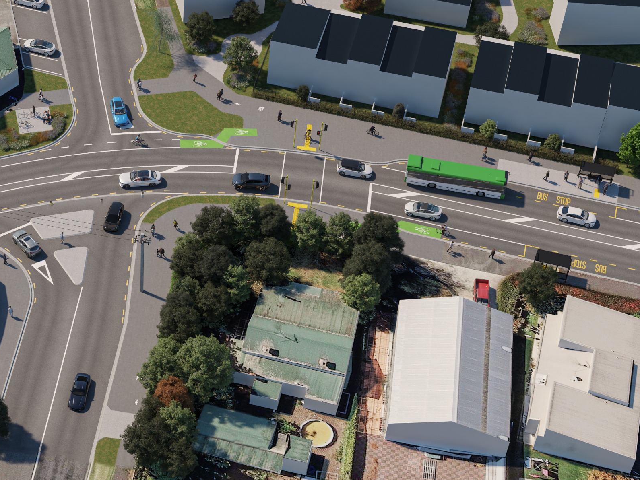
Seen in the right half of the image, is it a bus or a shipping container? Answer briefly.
bus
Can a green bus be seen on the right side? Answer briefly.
Yes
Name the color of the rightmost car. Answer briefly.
white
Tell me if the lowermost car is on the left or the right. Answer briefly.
left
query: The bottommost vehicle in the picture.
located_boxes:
[69,372,92,412]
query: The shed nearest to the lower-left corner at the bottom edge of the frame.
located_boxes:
[193,404,313,480]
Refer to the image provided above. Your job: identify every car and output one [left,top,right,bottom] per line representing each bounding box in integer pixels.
[11,0,45,10]
[231,172,271,191]
[336,159,373,178]
[403,200,444,221]
[21,38,58,57]
[119,170,161,188]
[112,97,129,125]
[12,228,42,259]
[103,200,124,232]
[555,206,598,227]
[69,372,92,412]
